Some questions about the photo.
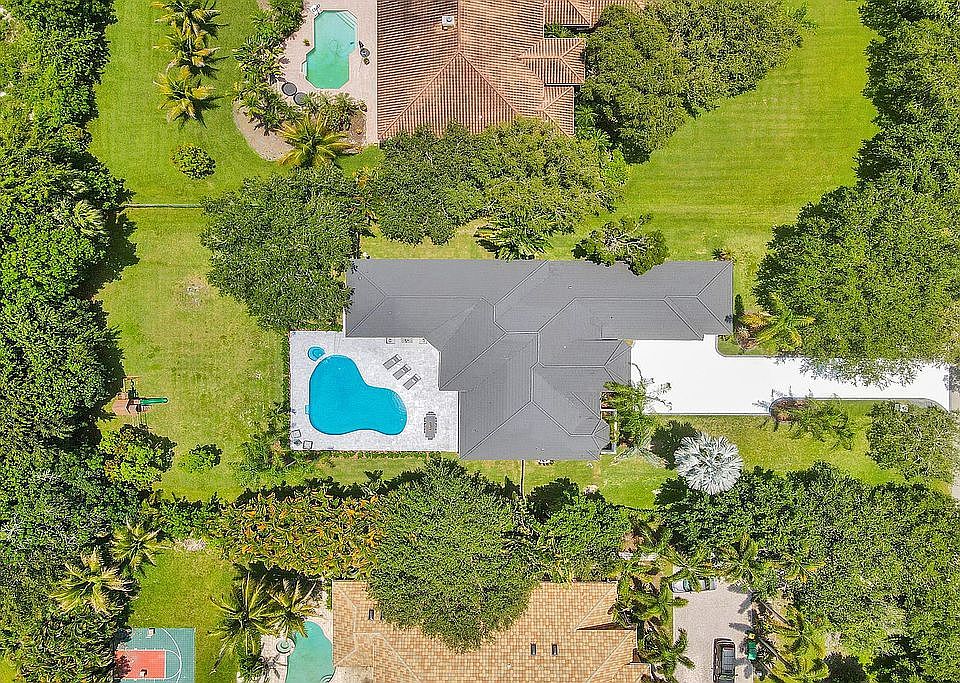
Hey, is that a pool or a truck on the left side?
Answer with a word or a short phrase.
pool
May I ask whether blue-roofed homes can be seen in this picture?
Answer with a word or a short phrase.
No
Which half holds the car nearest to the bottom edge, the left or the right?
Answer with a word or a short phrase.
right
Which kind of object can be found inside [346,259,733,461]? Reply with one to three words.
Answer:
house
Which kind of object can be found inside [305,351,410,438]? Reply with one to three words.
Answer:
swimming pool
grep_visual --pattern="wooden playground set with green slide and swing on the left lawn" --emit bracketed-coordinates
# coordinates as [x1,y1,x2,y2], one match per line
[111,375,167,433]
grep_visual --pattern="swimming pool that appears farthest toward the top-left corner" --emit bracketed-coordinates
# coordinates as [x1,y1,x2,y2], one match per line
[302,7,359,90]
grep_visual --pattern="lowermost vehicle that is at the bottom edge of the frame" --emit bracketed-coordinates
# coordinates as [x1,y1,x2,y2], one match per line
[709,635,735,683]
